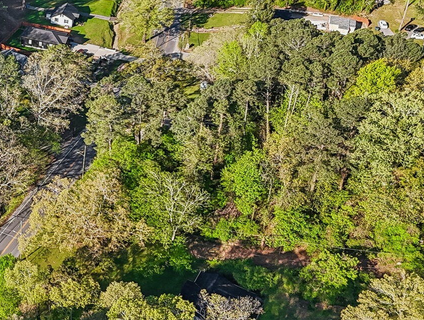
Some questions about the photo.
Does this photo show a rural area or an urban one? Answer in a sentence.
The area is rural.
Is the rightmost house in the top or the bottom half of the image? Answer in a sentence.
The top half of the photo is where the rightmost house is.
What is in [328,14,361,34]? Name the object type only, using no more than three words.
house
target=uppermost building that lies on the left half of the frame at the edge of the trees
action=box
[47,0,82,27]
